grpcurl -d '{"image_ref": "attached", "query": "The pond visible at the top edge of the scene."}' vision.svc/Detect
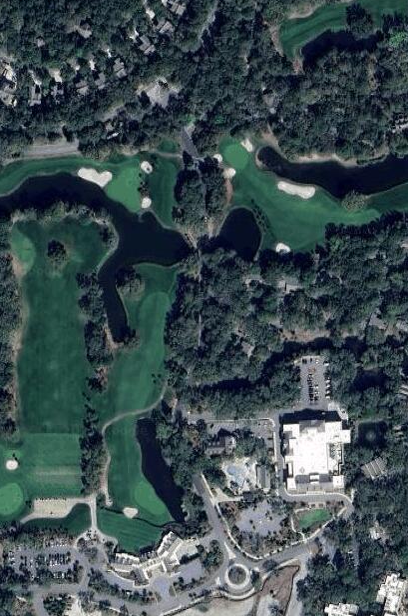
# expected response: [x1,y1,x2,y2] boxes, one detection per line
[302,28,382,74]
